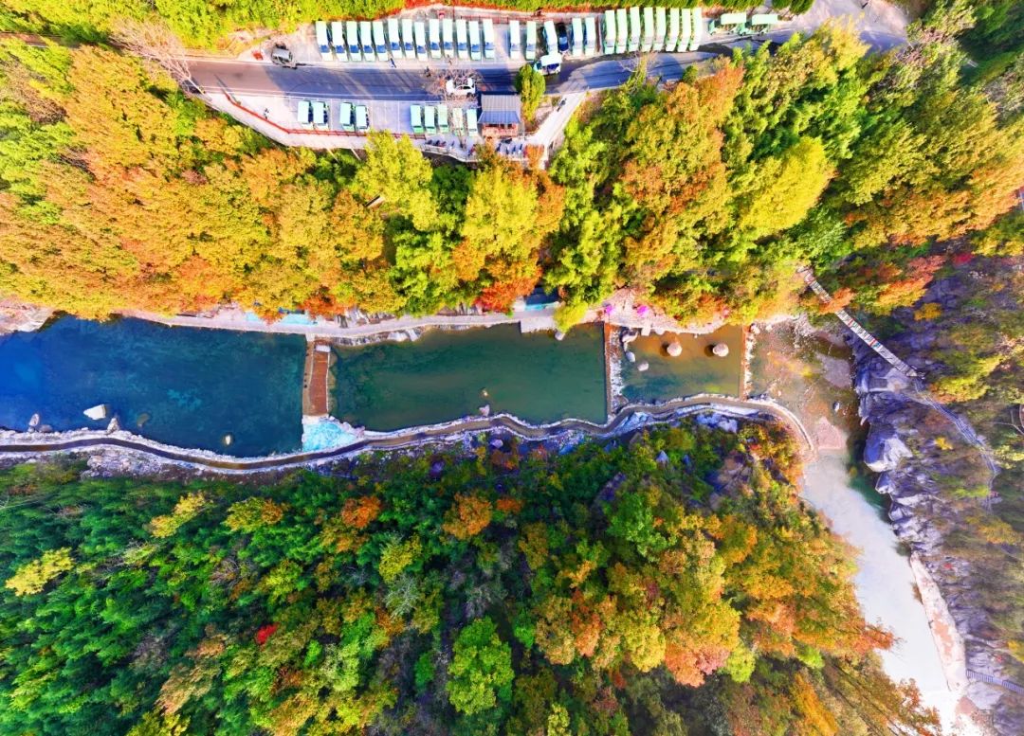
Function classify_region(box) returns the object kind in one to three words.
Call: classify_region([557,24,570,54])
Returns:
vehicle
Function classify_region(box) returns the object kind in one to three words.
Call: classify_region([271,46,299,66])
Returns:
car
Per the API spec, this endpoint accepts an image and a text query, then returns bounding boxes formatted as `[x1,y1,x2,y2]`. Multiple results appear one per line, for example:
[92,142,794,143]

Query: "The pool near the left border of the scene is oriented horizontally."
[0,316,304,458]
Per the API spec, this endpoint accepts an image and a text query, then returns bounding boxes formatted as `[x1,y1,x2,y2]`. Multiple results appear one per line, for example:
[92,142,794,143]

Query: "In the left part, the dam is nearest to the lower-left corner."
[302,337,337,416]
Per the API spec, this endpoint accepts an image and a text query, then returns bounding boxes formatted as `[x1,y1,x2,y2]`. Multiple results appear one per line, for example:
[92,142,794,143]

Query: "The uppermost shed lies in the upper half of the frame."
[479,95,523,138]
